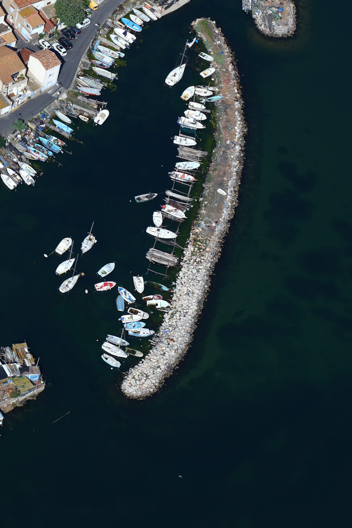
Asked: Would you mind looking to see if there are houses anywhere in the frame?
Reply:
Yes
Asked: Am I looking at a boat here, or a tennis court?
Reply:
boat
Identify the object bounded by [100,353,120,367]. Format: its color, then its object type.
white boat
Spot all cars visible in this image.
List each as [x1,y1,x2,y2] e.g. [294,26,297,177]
[58,37,73,50]
[61,28,76,40]
[69,26,82,36]
[53,44,67,57]
[75,19,91,29]
[37,39,53,51]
